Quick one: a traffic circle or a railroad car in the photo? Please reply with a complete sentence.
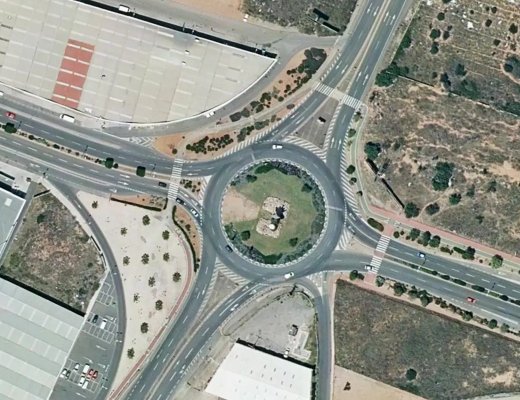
The one in the frame is a traffic circle.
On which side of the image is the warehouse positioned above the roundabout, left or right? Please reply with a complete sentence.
The warehouse positioned above the roundabout is on the left side of the image.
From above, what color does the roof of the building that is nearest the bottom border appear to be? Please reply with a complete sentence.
From above, the roof of the building that is nearest the bottom border looks white.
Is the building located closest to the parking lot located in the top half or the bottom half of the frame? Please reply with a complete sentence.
Seen from above, the building located closest to the parking lot lies in the bottom half of the view.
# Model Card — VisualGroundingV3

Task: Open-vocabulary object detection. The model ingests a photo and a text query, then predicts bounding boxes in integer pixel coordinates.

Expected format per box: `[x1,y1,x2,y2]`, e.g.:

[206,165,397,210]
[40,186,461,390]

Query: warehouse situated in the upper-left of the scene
[0,0,277,125]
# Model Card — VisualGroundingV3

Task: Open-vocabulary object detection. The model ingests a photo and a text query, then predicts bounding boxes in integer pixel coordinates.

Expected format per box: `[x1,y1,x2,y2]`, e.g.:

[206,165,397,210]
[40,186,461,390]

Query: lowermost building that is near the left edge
[0,276,86,400]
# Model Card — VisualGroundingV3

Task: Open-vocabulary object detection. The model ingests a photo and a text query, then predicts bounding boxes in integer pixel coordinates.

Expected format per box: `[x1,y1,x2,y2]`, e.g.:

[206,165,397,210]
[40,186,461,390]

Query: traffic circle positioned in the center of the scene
[190,127,353,284]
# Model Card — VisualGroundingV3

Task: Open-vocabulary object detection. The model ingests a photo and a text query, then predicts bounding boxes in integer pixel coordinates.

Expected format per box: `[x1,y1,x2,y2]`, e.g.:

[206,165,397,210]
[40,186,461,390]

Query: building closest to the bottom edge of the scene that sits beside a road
[205,342,313,400]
